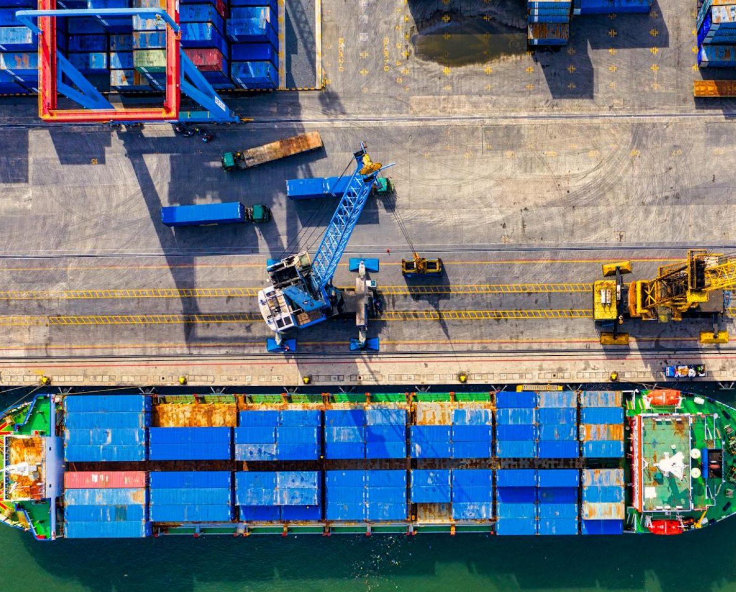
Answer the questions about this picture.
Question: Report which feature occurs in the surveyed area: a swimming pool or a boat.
boat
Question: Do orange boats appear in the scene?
Yes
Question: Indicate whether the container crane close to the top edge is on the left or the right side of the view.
left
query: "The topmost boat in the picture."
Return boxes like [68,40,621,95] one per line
[647,389,681,406]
